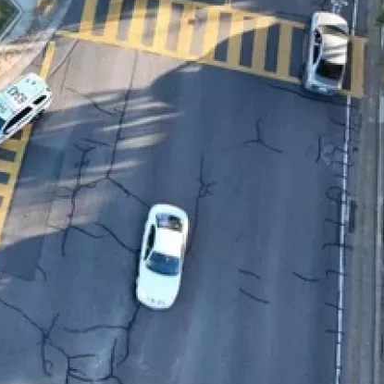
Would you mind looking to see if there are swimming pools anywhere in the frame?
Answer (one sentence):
No, the frame has no swimming pool in it.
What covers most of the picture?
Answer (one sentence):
For the most part, this view shows paved ground.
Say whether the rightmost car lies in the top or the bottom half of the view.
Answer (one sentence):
The rightmost car sits in the top half of the picture.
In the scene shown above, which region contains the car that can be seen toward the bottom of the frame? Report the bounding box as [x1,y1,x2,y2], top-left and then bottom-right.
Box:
[133,201,191,316]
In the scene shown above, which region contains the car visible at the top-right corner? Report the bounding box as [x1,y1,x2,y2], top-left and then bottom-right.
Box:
[298,12,356,99]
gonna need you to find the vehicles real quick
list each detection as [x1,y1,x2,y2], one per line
[133,201,191,316]
[298,12,356,99]
[0,73,57,151]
